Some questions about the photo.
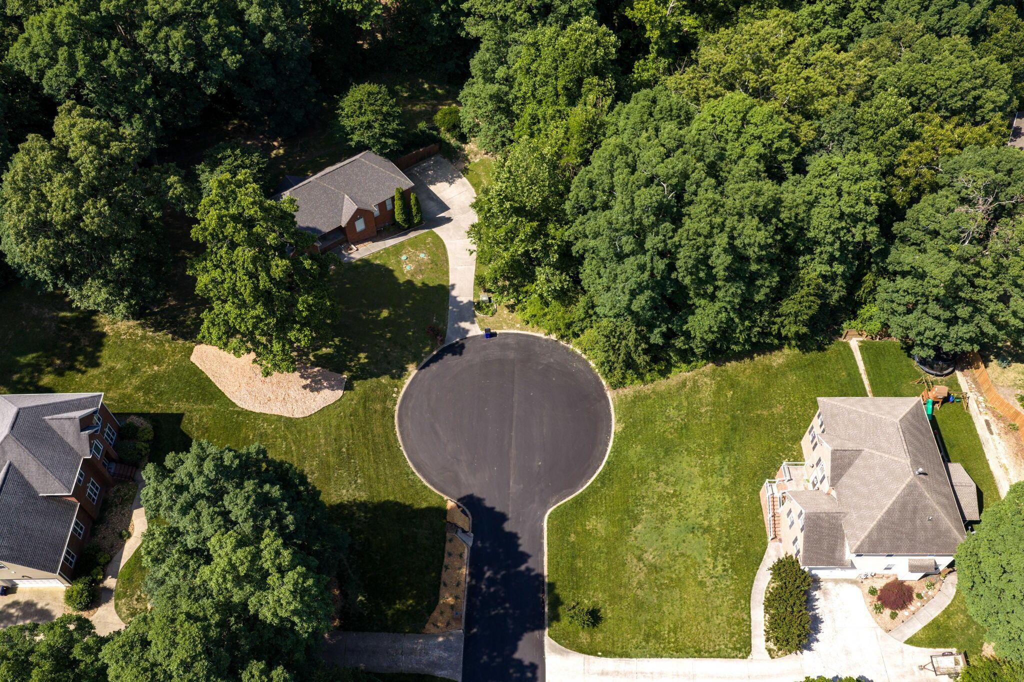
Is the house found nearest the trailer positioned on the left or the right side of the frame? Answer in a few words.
right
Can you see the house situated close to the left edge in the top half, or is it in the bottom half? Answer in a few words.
bottom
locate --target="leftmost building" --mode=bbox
[0,392,147,587]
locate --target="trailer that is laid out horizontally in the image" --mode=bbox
[916,650,971,677]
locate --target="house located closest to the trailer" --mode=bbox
[762,397,978,579]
